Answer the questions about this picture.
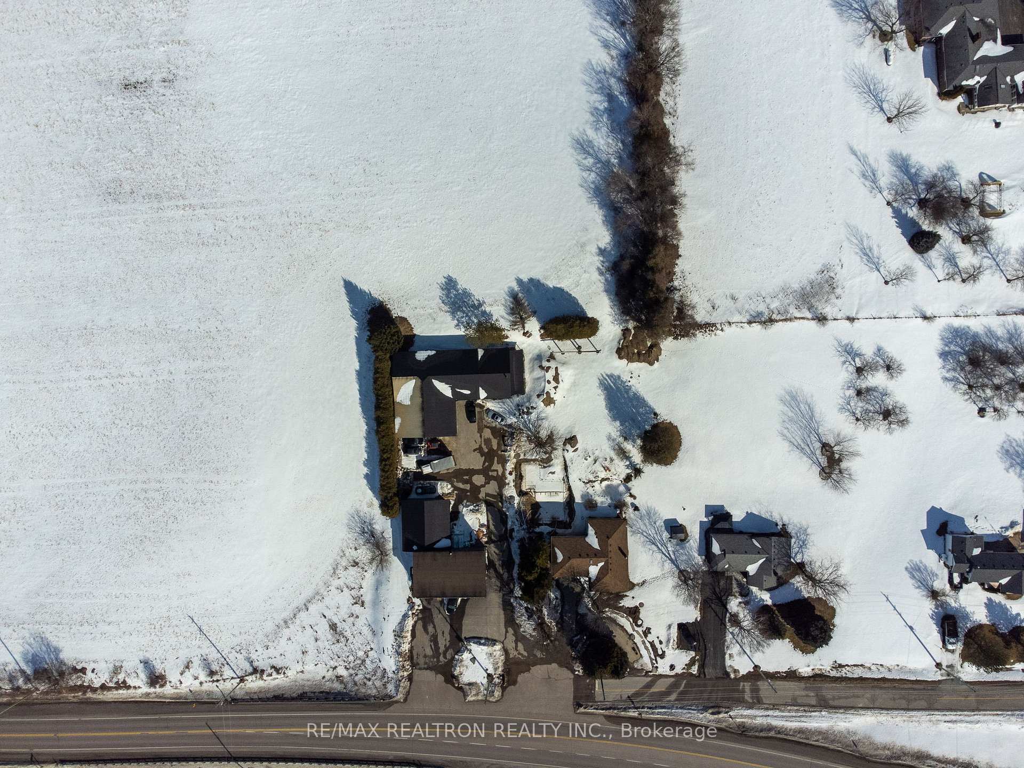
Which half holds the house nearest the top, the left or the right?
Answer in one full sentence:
The house nearest the top sits on the right side.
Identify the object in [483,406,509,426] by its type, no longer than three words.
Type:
car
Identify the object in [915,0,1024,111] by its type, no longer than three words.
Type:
house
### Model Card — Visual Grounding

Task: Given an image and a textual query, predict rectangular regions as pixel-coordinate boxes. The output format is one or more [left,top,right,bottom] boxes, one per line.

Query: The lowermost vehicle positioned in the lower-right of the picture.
[944,617,961,650]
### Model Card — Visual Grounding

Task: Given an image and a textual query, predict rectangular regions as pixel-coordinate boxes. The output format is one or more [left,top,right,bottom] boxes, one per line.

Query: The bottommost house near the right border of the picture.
[937,532,1024,594]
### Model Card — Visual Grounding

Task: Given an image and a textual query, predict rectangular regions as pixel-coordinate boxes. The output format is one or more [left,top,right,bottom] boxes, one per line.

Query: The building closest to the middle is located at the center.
[392,348,525,438]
